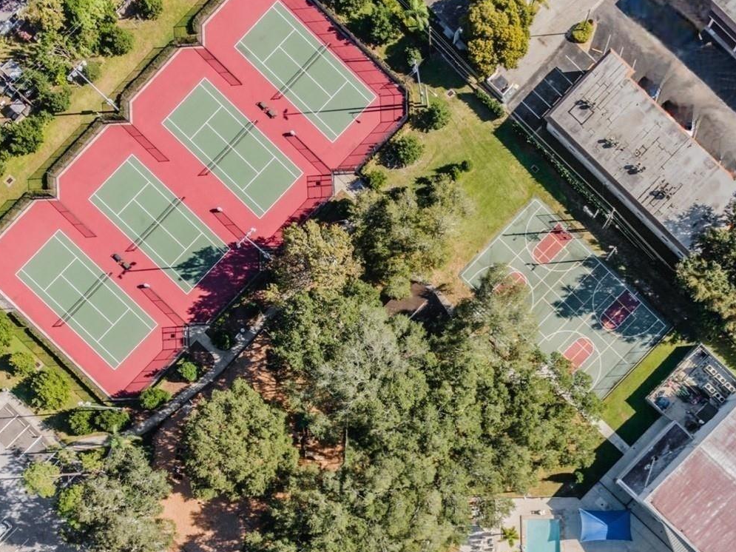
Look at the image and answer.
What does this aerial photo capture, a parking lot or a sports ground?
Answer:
sports ground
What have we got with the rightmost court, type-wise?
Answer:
basketball court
